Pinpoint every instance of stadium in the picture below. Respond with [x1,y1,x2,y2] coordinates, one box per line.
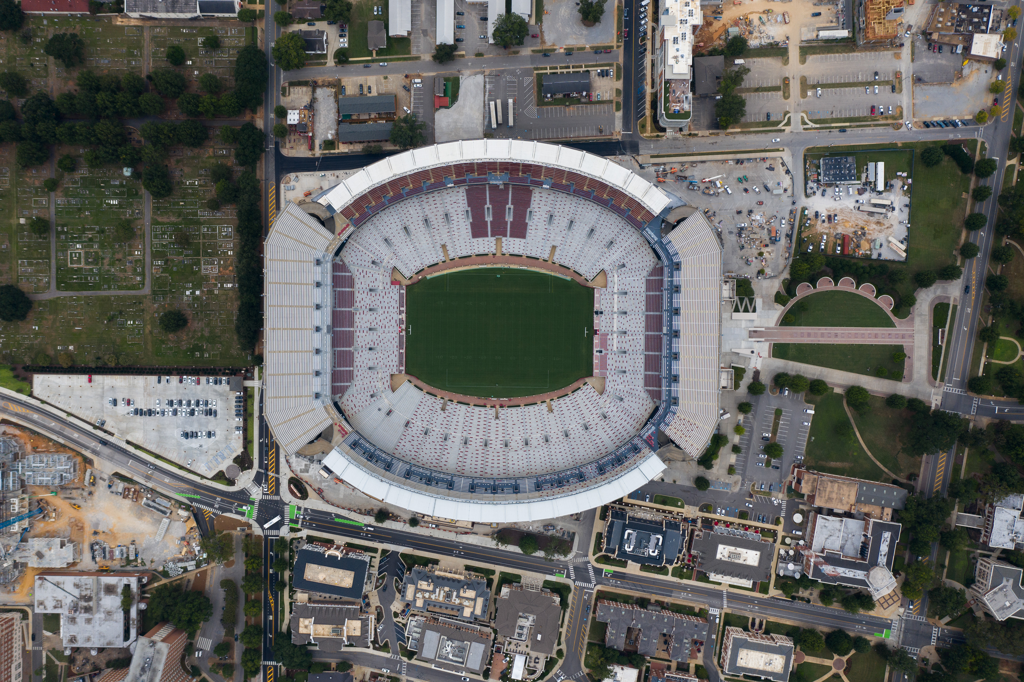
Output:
[258,138,725,524]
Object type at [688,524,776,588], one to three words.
building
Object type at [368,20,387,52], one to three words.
house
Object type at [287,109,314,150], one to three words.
building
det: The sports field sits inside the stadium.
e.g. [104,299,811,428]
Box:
[405,266,594,398]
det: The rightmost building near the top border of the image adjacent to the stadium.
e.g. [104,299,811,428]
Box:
[658,0,701,128]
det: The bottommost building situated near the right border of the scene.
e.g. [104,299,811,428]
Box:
[971,559,1024,622]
